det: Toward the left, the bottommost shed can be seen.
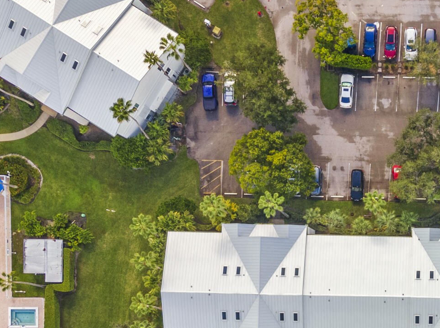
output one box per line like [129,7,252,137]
[19,238,71,282]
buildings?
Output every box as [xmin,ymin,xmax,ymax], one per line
[161,207,440,328]
[19,238,71,282]
[0,0,185,138]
